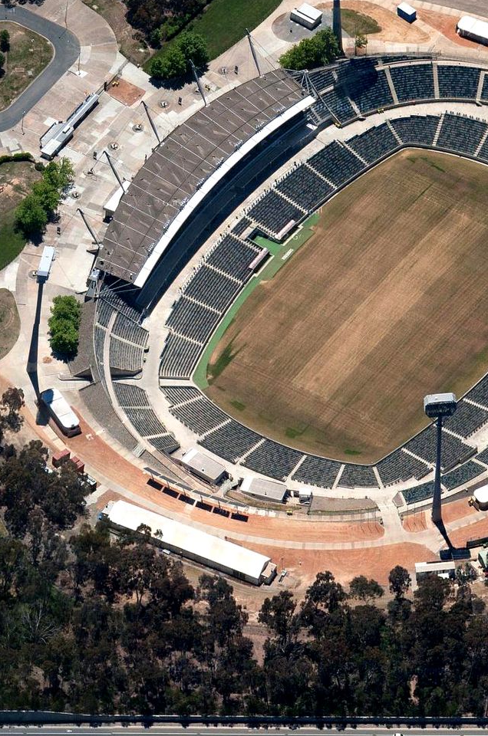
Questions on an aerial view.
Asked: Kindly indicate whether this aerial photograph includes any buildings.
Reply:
Yes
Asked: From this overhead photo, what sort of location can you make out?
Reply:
sports ground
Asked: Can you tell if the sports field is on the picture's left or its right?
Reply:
right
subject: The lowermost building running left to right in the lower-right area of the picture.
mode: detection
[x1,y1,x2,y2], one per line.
[415,561,456,578]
